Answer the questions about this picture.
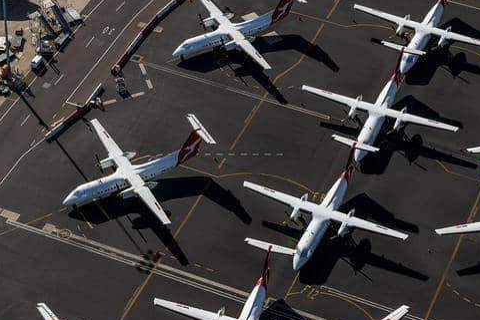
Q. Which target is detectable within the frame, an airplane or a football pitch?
airplane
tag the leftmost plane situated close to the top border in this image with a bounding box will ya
[172,0,305,67]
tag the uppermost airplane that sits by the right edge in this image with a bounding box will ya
[354,0,480,72]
